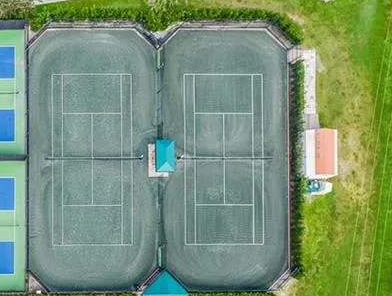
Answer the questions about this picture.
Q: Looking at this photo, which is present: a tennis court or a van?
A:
tennis court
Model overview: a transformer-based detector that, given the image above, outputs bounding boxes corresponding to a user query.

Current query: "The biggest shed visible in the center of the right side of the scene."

[302,129,336,180]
